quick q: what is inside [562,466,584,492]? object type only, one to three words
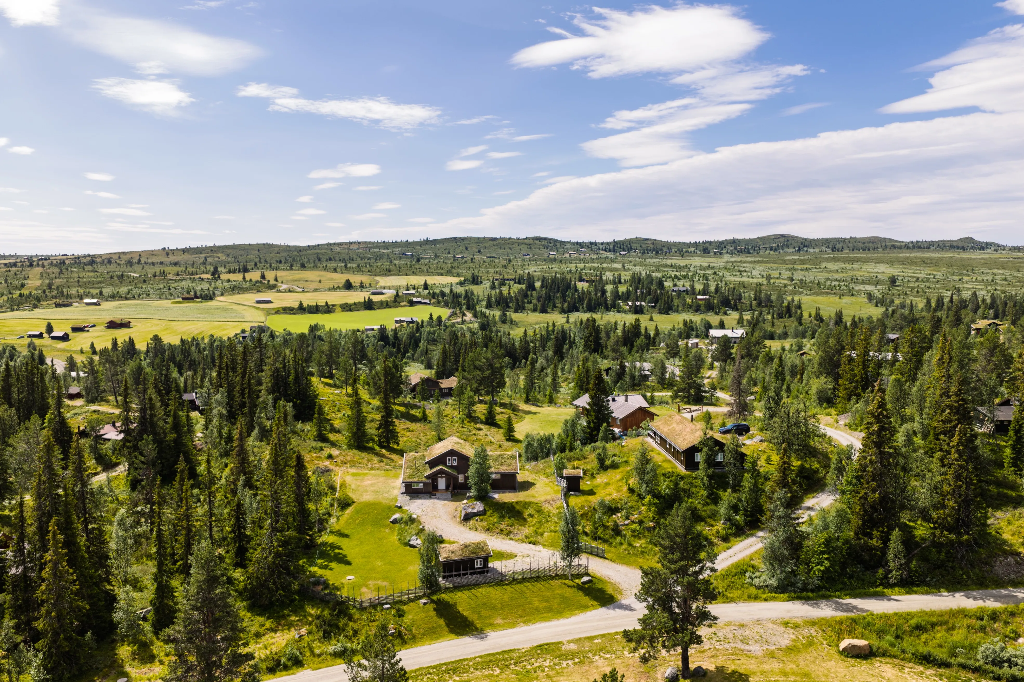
shed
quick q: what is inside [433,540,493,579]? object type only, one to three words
building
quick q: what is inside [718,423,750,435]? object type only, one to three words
vehicle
